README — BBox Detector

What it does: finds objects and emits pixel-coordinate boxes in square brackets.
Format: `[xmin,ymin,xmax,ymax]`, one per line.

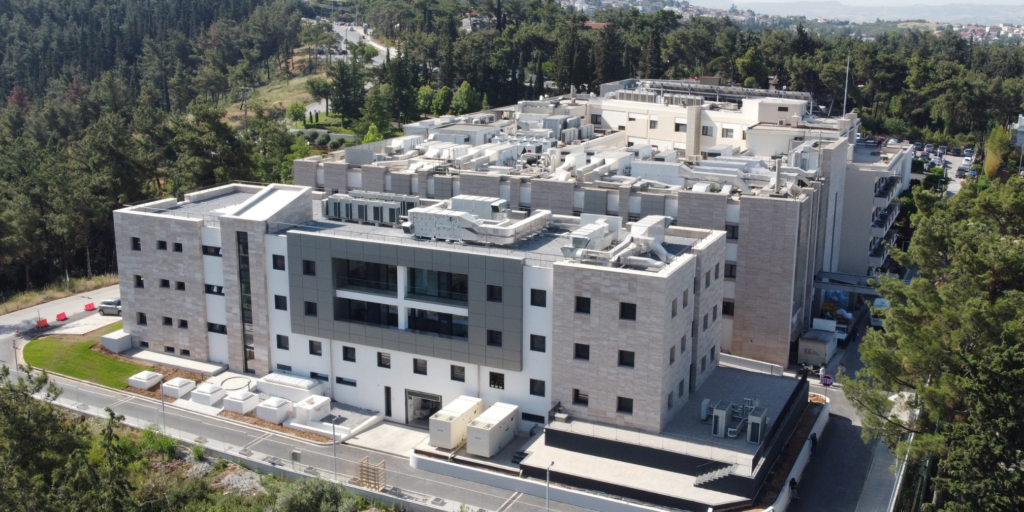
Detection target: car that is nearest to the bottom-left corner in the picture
[96,299,121,317]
